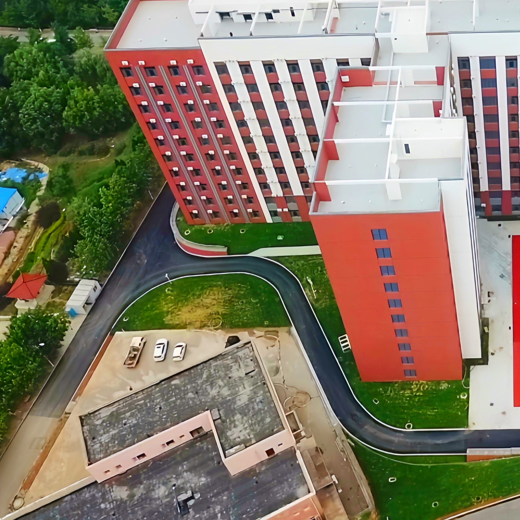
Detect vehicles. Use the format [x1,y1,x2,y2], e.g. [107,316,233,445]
[170,338,187,363]
[119,332,144,370]
[151,334,168,363]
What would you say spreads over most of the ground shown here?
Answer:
buildings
